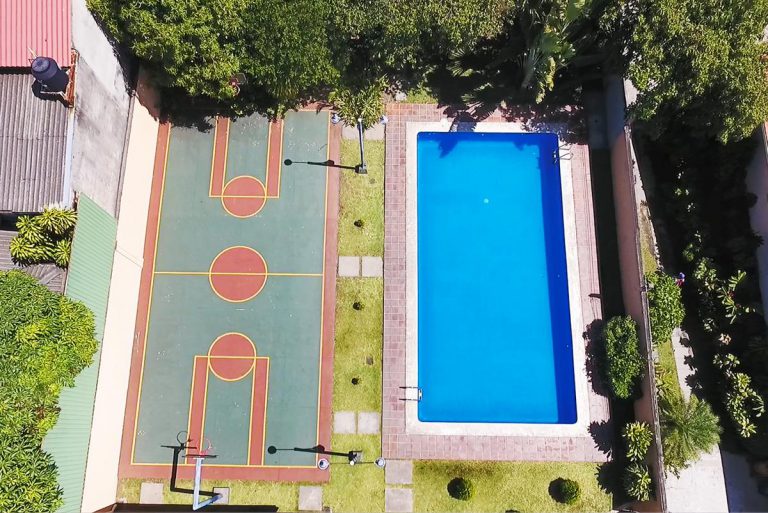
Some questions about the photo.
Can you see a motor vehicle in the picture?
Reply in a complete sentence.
No, there's no motor vehicle here.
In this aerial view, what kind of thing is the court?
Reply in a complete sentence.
It looks like the court is a basketball court.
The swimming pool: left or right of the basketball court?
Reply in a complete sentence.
From the viewer's perspective, the swimming pool falls to the right of the basketball court.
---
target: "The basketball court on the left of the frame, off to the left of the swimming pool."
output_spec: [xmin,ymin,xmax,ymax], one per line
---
[119,101,340,481]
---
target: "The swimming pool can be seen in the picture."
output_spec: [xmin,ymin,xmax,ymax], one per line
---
[406,122,591,436]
